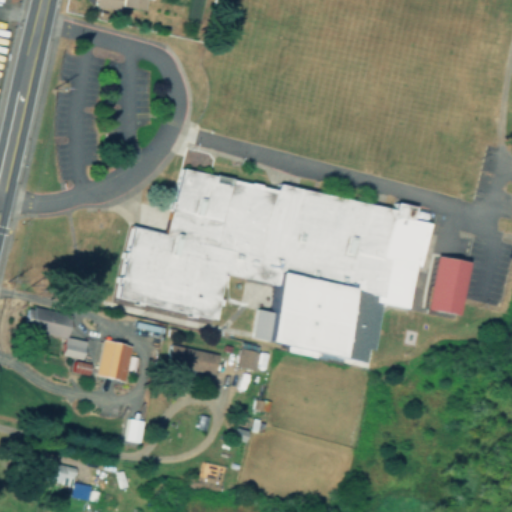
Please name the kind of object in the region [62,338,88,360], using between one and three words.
house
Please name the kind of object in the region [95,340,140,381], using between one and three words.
house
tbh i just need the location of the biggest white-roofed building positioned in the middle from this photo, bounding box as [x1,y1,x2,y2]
[112,168,435,368]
